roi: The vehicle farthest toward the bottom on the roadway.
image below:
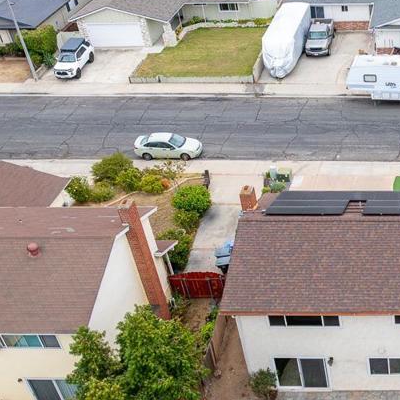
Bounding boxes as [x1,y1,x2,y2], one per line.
[128,130,202,158]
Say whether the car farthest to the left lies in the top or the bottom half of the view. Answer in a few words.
top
